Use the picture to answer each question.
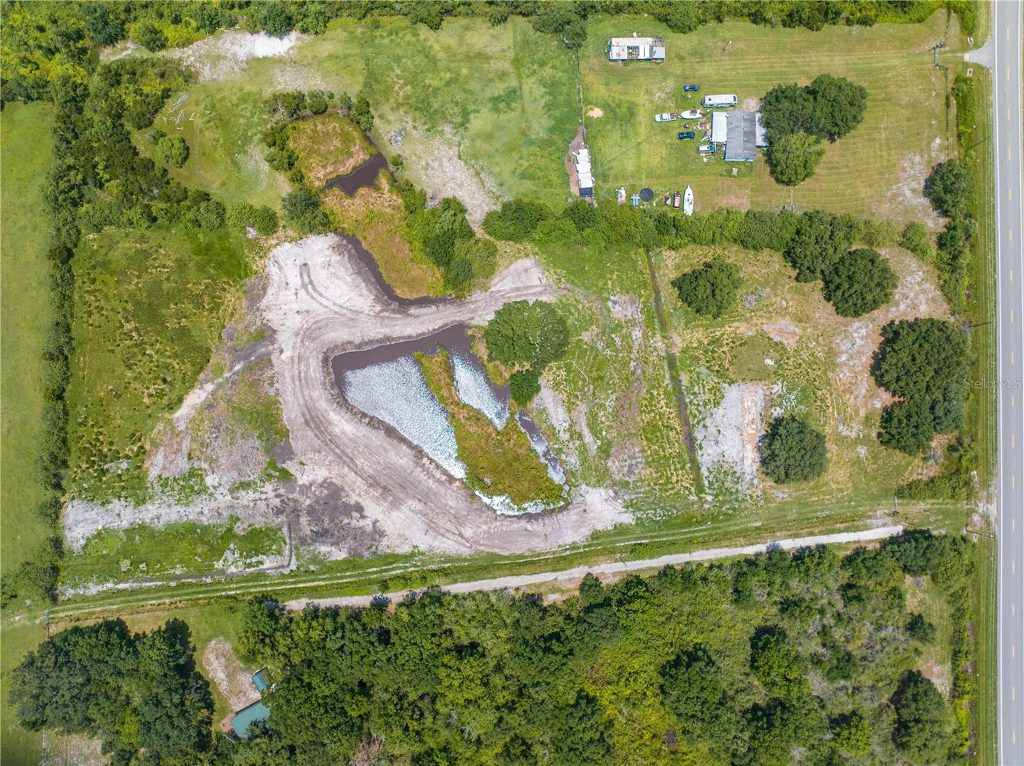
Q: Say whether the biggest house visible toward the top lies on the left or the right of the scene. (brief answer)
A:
right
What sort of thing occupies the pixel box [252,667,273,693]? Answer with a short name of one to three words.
shed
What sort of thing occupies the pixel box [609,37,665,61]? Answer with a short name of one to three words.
barn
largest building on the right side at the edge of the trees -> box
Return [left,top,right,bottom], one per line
[711,110,769,161]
